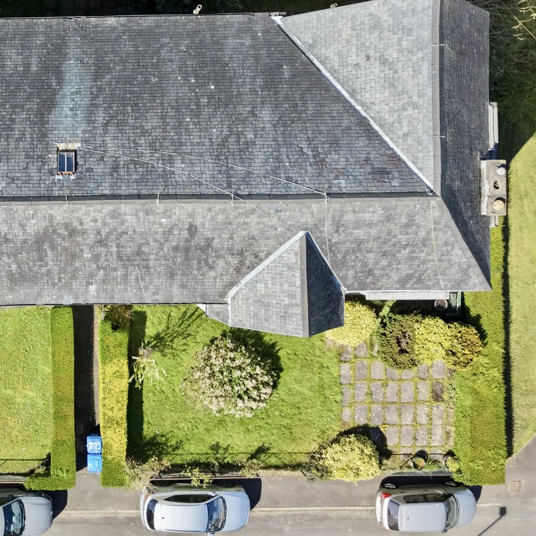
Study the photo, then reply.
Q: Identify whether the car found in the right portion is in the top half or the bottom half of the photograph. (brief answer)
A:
bottom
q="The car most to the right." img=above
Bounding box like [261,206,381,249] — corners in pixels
[373,480,473,536]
